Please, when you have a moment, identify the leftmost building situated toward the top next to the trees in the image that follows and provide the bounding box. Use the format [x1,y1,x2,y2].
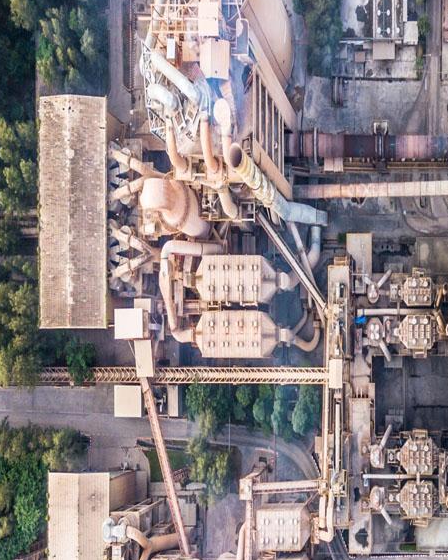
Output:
[37,92,123,330]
